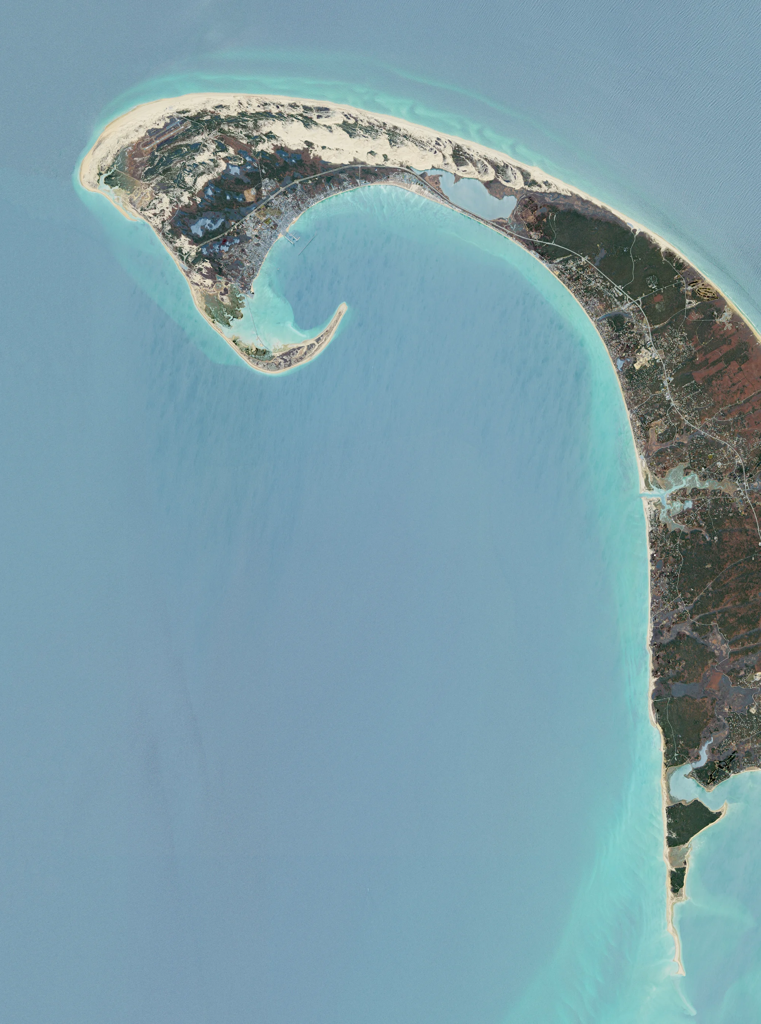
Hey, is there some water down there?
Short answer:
Yes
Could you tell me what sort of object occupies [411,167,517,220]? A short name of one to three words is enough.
pond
